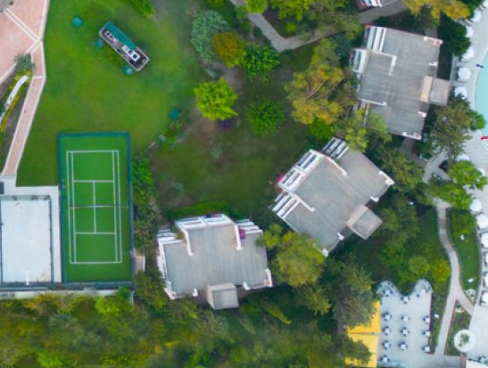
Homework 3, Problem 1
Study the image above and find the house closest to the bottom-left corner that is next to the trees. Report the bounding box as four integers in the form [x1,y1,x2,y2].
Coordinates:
[159,208,269,311]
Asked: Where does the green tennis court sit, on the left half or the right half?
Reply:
left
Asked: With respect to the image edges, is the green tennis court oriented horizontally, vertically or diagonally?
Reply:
vertically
